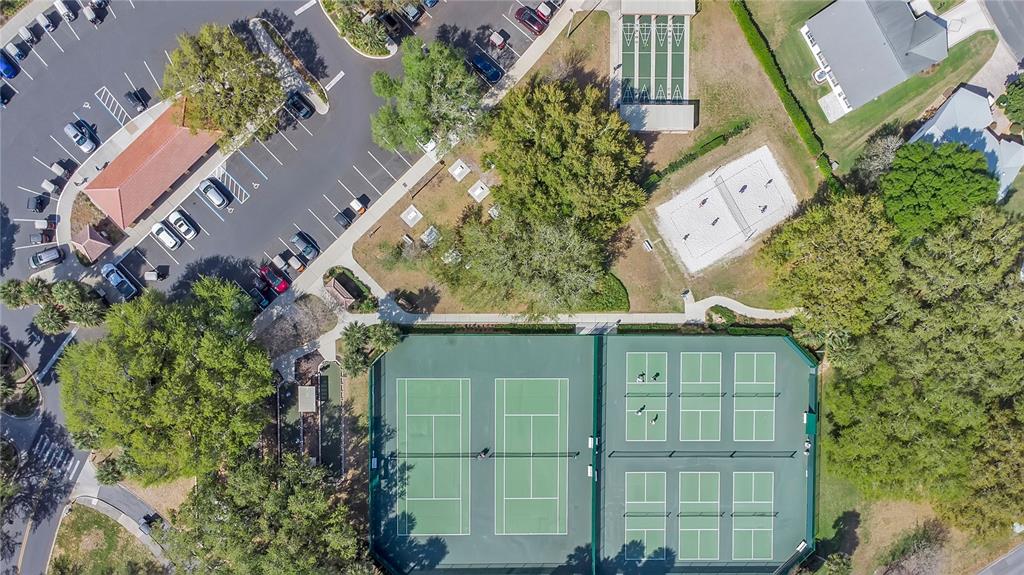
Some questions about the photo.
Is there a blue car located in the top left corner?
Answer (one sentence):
Yes, I can see a blue car in the top left corner.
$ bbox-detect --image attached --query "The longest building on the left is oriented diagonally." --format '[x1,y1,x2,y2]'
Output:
[84,97,226,229]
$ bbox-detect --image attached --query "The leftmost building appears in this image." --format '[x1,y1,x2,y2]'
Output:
[71,224,118,263]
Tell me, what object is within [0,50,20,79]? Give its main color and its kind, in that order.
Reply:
blue car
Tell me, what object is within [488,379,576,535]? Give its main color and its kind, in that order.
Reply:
green tennis court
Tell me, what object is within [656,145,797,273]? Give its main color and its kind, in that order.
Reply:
white sports court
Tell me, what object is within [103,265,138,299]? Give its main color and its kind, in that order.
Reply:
blue truck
